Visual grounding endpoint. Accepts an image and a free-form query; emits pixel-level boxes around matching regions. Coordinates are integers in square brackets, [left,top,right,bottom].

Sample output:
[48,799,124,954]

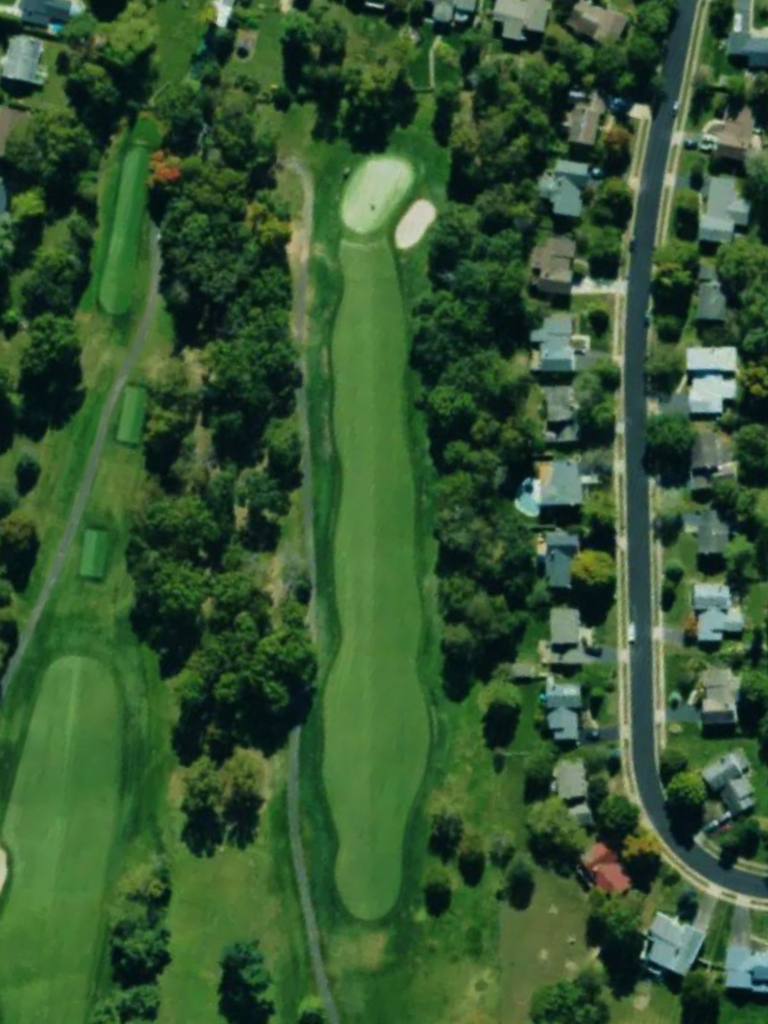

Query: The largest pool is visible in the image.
[514,475,541,519]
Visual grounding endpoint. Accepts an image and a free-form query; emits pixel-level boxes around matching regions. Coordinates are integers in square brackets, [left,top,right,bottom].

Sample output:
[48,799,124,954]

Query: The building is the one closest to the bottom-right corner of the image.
[725,946,768,993]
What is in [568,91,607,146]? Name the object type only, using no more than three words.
house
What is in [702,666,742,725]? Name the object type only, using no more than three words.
house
